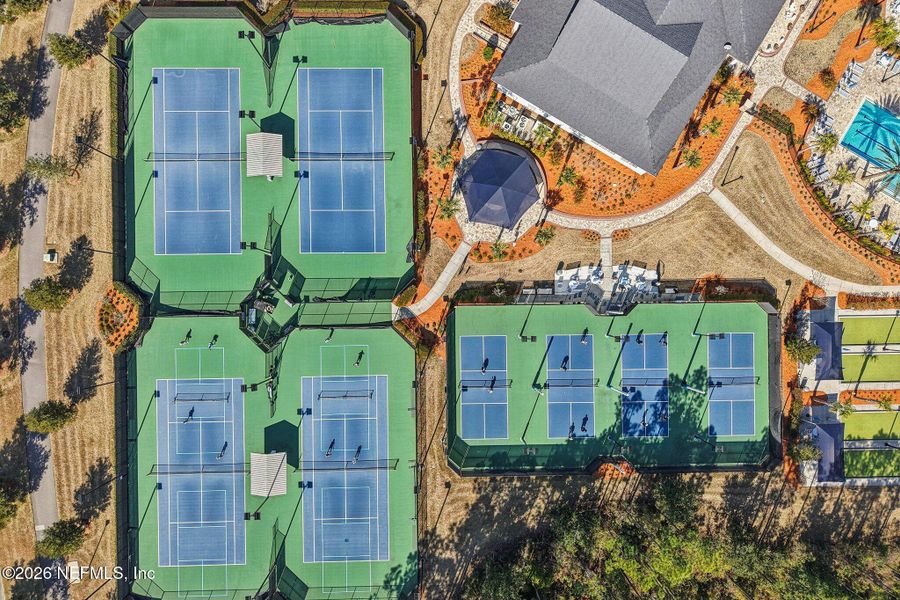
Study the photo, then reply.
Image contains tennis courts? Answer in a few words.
Yes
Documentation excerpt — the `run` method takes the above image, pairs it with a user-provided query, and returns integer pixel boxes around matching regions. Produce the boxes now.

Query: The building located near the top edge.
[491,0,794,175]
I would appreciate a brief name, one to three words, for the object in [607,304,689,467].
sports court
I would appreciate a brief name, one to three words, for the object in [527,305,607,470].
sports court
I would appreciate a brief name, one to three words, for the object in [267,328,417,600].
tennis court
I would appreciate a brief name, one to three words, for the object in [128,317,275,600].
tennis court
